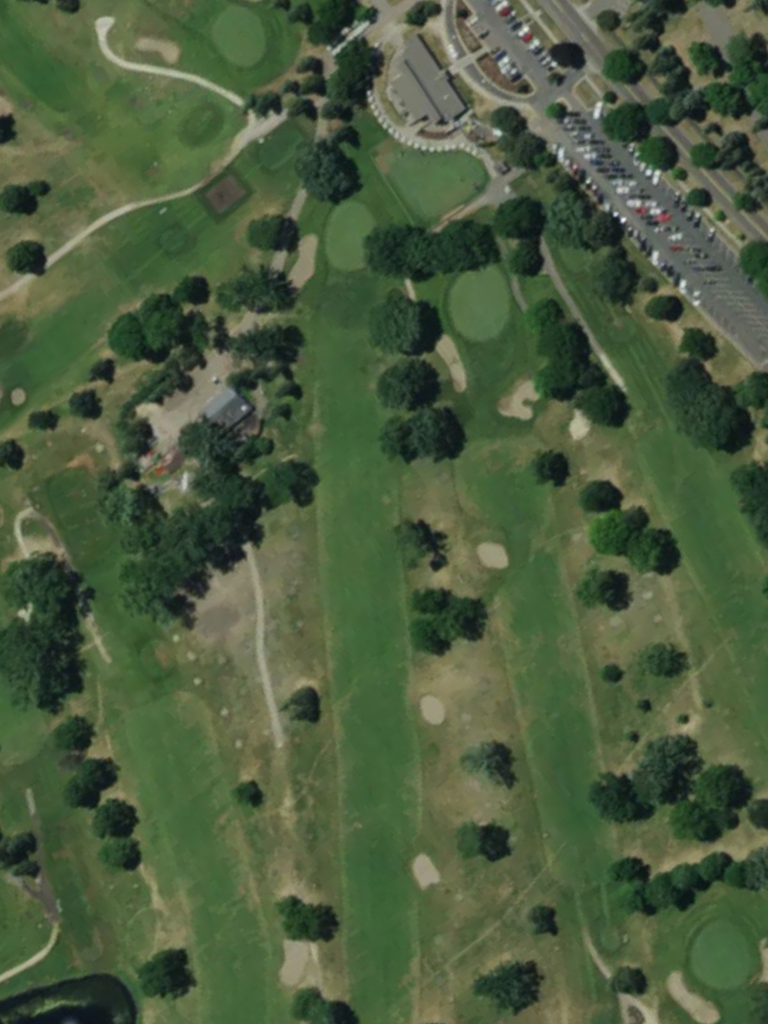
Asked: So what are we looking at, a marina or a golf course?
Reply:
golf course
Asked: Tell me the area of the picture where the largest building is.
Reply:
top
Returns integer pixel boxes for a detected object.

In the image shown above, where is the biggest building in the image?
[392,34,467,126]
